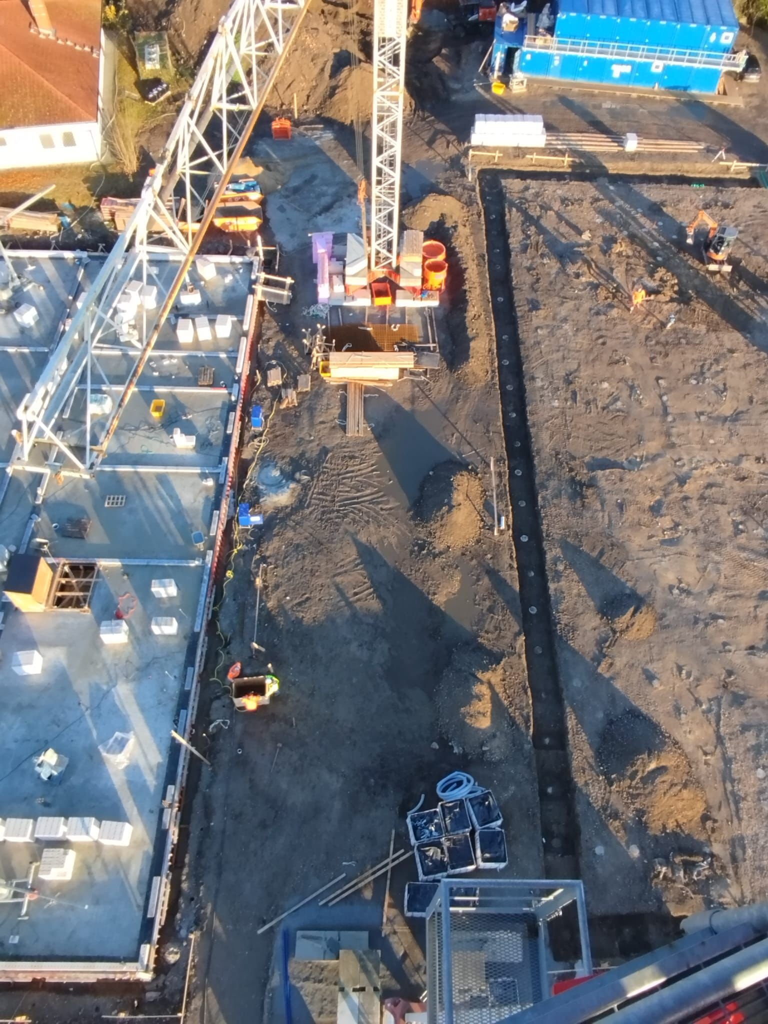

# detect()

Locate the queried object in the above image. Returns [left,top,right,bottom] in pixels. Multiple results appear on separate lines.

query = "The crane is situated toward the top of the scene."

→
[7,0,430,507]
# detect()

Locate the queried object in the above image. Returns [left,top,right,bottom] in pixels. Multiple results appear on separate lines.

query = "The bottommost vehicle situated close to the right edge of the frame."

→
[681,222,738,279]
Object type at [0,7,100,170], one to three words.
house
